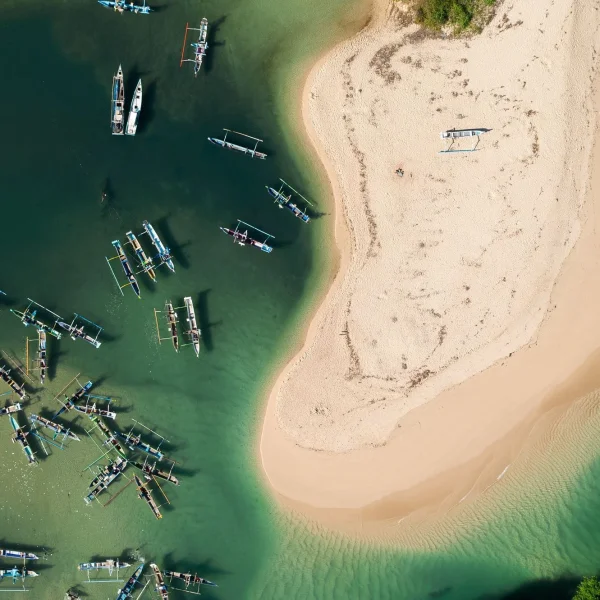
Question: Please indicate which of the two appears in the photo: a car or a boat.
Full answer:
I can see a boat in this picture.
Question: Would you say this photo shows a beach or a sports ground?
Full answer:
The picture captures a beach.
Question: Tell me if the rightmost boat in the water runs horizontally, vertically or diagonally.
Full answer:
Seen from above, the rightmost boat in the water lies diagonally.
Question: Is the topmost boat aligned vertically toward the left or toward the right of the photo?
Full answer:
The topmost boat aligned vertically sits on the left side.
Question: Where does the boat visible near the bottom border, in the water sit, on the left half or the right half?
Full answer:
It is on the left.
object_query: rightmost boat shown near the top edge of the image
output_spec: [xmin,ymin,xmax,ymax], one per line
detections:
[180,16,208,78]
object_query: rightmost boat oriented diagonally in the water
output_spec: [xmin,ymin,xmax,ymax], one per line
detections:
[265,179,313,224]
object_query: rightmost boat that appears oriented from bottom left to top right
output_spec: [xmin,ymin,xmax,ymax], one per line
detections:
[117,564,149,600]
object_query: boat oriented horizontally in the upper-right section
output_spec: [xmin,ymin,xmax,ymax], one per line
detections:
[438,130,486,153]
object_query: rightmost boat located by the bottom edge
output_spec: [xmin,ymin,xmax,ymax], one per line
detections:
[163,570,219,595]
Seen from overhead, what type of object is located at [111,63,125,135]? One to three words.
boat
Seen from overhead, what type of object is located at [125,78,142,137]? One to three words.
boat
